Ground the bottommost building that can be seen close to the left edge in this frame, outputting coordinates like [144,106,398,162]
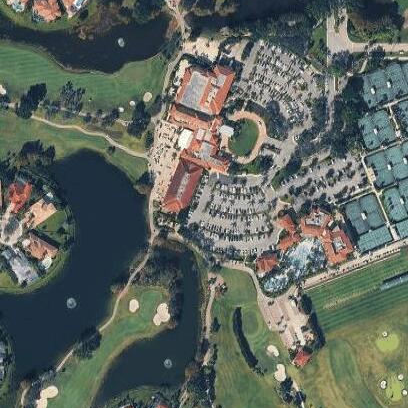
[13,251,37,282]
